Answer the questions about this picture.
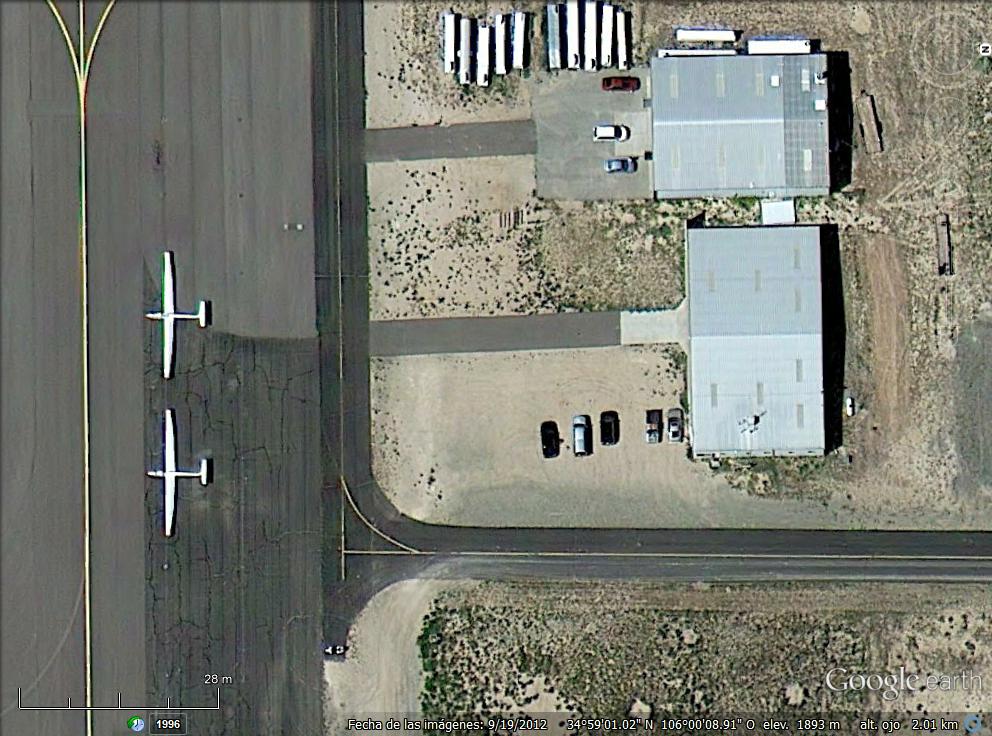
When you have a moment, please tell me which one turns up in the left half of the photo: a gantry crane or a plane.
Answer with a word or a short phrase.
plane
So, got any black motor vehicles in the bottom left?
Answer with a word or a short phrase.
No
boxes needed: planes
[147,253,205,379]
[147,409,206,537]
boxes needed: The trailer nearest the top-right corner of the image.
[856,90,881,154]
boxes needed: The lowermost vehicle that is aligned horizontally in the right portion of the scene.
[604,158,635,173]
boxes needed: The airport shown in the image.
[0,0,447,736]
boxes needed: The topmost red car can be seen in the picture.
[602,77,637,92]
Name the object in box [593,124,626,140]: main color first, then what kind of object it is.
white car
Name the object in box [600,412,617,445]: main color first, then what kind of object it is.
black car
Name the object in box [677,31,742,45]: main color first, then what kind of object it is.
white vehicle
